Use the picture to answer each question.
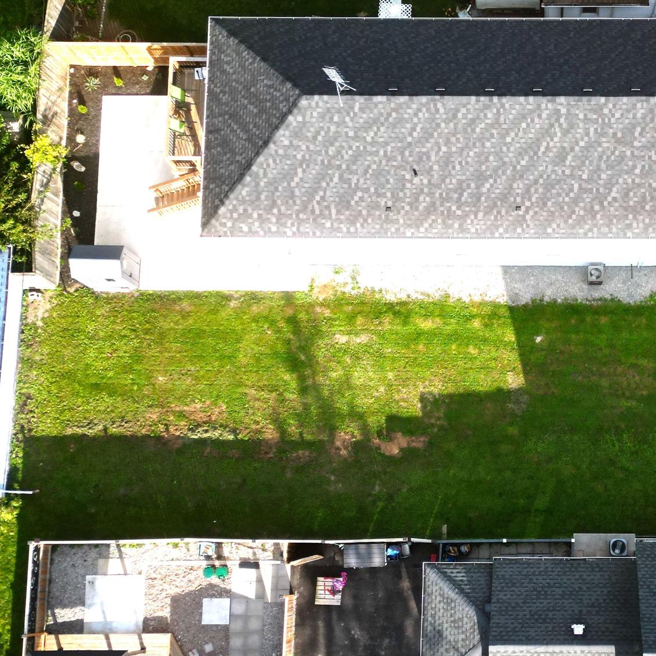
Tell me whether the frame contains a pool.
No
